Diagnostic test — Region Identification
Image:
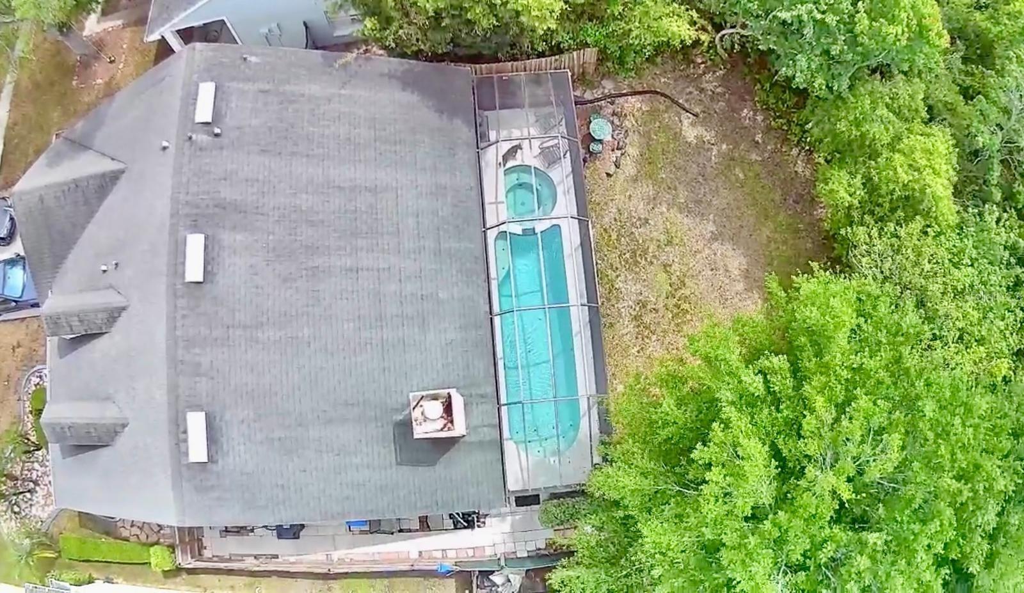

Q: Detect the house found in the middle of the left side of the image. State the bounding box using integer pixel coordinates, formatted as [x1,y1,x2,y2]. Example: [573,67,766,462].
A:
[11,43,512,527]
